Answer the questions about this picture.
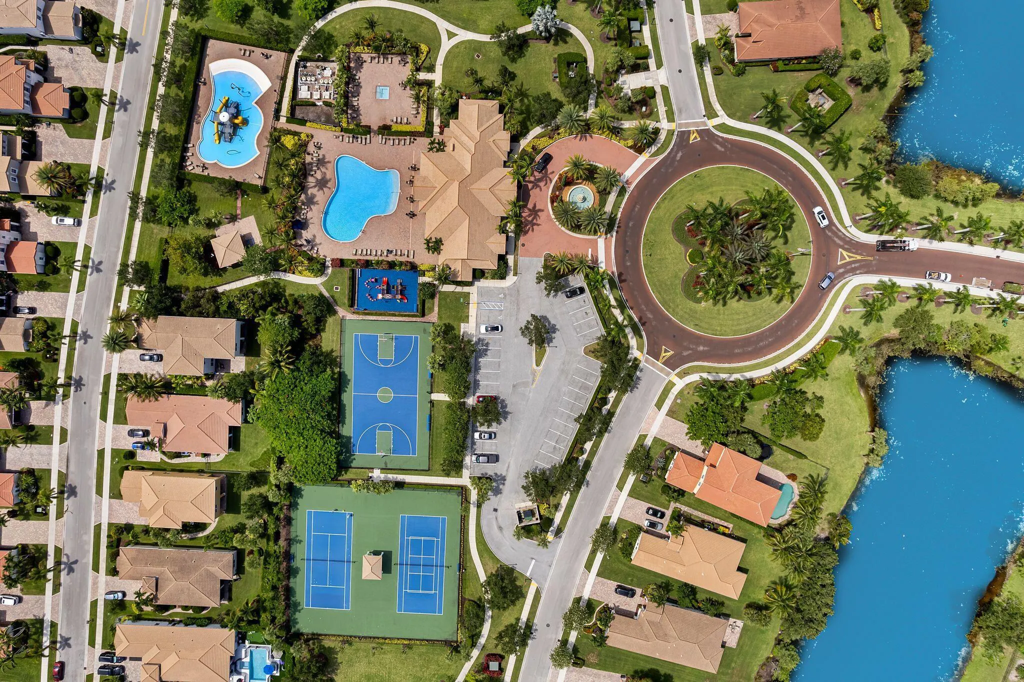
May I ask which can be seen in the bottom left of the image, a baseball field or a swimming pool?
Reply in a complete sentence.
It is a swimming pool that can be seen in the bottom left of the image.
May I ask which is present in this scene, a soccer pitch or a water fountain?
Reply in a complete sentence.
Looking from above, you can make out a water fountain.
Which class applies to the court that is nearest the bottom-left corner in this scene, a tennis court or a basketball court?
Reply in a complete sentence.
What you see as the court that is nearest the bottom-left corner is a tennis court.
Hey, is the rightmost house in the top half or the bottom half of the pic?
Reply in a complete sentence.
The top half of the photo is where the rightmost house is.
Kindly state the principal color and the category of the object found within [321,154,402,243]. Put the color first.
blue swimming pool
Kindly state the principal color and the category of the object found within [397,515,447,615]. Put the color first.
blue tennis court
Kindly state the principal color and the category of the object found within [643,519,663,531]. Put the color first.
gray vehicle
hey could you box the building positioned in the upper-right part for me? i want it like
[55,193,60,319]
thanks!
[733,0,841,64]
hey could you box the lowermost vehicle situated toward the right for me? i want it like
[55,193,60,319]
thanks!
[615,584,635,597]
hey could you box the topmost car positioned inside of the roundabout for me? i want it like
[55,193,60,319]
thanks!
[812,206,829,228]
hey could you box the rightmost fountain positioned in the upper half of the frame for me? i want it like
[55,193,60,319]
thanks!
[569,185,595,211]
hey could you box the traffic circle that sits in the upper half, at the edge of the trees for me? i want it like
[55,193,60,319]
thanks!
[612,126,1024,376]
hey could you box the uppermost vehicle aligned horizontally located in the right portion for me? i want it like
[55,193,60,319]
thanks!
[870,239,917,252]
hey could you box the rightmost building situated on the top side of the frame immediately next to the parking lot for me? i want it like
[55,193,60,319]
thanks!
[413,97,517,281]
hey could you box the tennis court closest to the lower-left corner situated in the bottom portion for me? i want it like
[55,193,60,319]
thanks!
[304,510,353,610]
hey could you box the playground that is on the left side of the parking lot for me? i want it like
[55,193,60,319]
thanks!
[355,269,418,313]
